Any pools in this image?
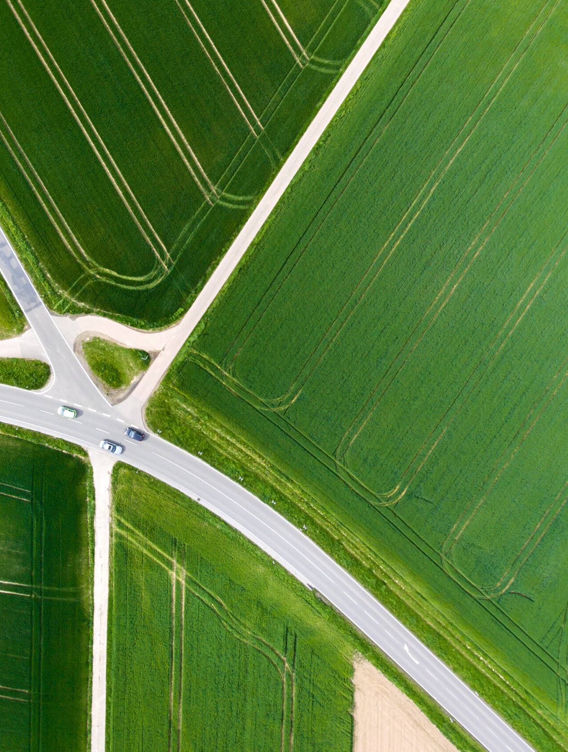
No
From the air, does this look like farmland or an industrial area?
farmland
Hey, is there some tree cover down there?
No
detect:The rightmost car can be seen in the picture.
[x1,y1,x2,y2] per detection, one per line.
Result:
[124,427,146,443]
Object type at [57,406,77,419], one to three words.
vehicle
